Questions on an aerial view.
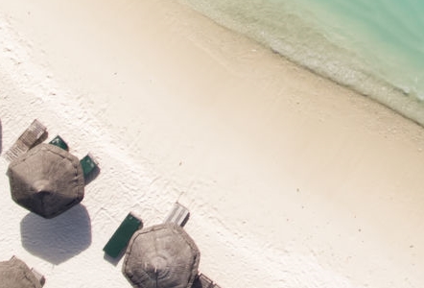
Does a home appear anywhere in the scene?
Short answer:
No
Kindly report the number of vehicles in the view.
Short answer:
none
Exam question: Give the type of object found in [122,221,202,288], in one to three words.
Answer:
umbrella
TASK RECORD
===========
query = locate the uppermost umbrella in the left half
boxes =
[9,139,85,221]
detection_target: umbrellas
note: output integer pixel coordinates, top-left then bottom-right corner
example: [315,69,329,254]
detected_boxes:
[0,254,46,288]
[122,221,202,288]
[9,139,85,221]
